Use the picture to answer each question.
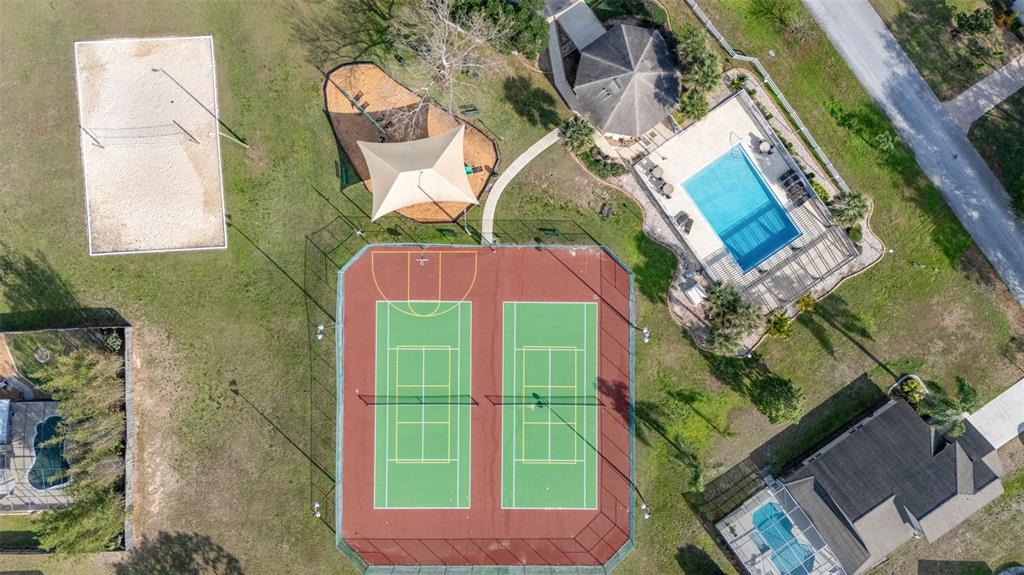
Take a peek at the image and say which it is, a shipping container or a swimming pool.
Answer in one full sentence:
There is a swimming pool in the scene.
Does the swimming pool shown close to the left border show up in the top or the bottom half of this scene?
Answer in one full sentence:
Seen from above, the swimming pool shown close to the left border lies in the bottom half of the view.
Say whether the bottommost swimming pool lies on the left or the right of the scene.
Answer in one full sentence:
The bottommost swimming pool is on the right side of the image.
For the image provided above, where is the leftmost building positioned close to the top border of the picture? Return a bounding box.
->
[573,24,681,136]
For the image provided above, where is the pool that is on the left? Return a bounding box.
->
[27,414,73,492]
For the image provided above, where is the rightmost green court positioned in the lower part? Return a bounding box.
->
[502,302,598,509]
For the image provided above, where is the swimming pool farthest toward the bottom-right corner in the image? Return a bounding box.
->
[752,501,817,575]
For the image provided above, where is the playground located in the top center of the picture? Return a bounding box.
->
[323,60,499,223]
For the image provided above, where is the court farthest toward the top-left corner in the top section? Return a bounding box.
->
[74,35,227,255]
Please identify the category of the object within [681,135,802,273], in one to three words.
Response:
swimming pool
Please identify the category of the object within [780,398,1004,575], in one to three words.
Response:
house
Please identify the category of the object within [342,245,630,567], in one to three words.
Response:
sports court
